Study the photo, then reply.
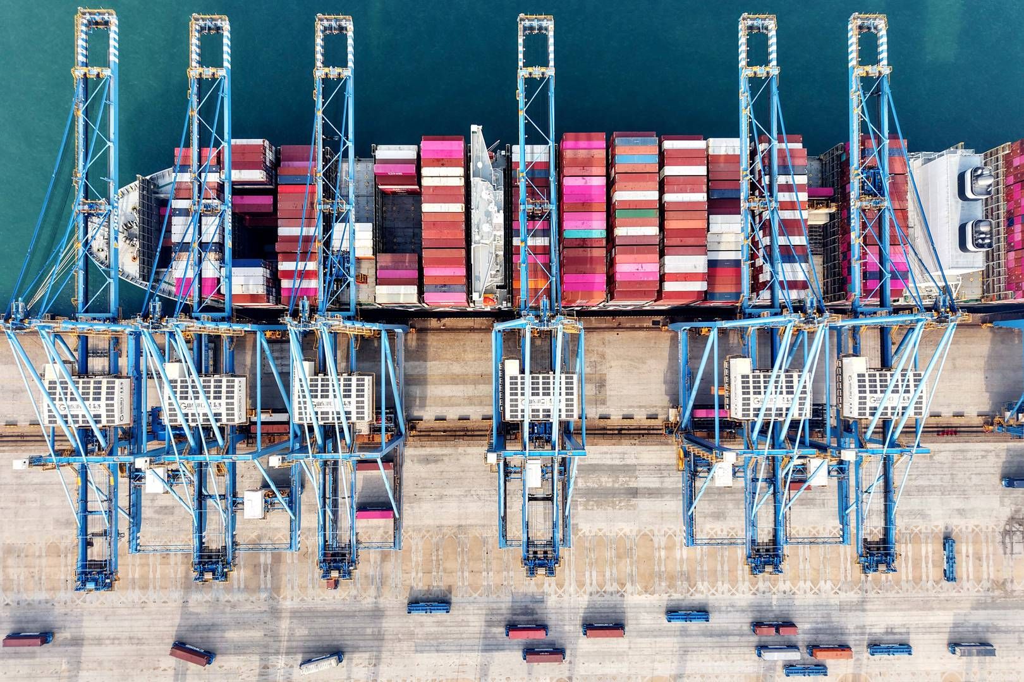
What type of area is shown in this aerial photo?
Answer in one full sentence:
What you see here is a port.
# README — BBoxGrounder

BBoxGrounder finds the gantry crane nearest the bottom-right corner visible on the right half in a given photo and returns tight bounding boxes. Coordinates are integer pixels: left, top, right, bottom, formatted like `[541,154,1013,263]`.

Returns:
[990,323,1024,548]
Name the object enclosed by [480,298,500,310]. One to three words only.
boat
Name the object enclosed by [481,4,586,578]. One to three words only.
container crane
